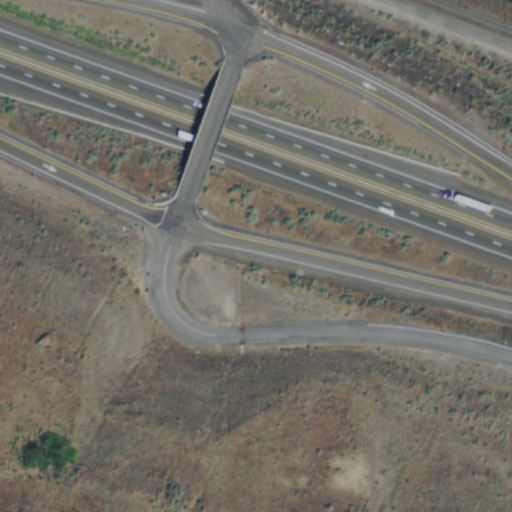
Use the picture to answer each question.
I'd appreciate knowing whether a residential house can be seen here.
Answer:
No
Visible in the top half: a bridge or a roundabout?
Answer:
bridge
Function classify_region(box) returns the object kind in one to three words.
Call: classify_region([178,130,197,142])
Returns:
vehicle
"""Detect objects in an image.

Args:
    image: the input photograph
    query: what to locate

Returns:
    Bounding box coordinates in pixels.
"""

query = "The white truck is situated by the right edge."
[440,190,492,212]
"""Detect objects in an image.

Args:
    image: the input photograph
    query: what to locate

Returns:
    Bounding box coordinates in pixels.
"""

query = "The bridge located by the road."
[178,56,245,200]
